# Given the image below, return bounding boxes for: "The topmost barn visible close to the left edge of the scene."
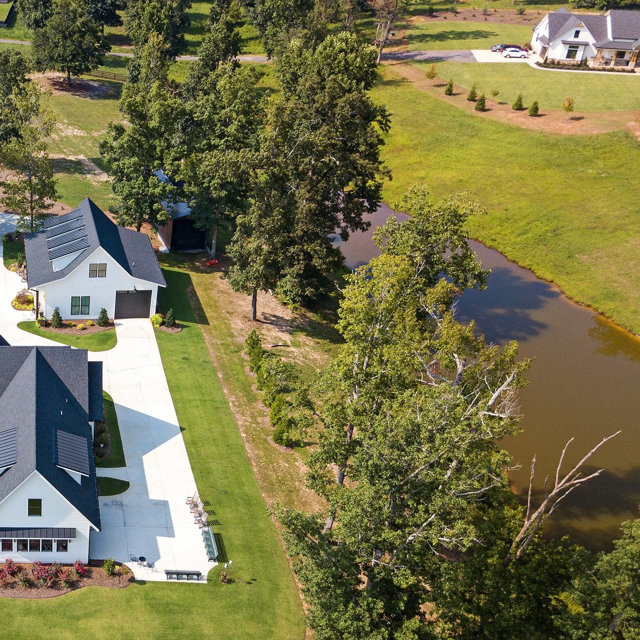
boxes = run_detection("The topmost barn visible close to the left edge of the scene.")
[25,196,168,320]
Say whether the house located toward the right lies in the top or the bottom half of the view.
top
